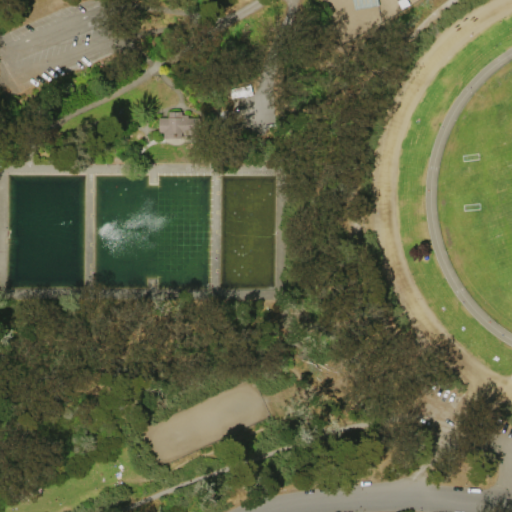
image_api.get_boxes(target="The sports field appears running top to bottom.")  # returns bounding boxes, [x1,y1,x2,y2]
[436,58,512,334]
